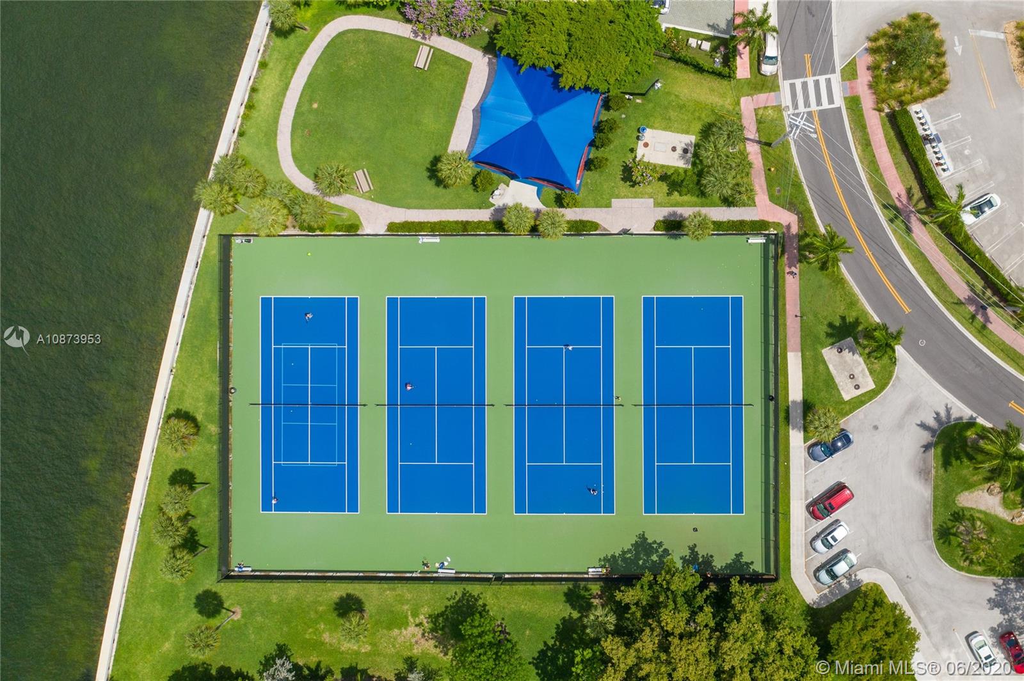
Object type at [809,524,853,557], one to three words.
car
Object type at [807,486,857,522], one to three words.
car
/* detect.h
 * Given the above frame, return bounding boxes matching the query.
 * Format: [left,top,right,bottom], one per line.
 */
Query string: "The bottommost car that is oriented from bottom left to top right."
[813,553,860,588]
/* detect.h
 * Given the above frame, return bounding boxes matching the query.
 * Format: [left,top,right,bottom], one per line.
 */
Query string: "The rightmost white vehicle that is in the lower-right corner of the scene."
[967,634,1000,680]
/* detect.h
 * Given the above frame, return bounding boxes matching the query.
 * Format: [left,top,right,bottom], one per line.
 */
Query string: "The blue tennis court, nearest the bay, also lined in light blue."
[260,297,359,514]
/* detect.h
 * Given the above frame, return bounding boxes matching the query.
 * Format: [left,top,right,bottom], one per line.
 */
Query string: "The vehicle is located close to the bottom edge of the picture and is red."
[997,633,1024,680]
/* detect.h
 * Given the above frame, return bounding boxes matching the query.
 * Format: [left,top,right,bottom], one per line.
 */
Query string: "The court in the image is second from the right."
[514,296,615,515]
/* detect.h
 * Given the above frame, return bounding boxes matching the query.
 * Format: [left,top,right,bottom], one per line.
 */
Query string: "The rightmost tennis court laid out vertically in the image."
[642,296,744,515]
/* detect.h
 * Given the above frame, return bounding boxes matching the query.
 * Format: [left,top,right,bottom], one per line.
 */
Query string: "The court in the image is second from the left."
[386,296,487,514]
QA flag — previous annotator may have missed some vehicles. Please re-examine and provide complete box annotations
[997,633,1024,680]
[807,486,857,522]
[809,524,853,557]
[962,191,1006,223]
[807,432,855,464]
[967,634,1000,680]
[813,553,860,588]
[758,27,781,77]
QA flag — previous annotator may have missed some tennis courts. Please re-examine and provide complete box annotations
[642,296,744,515]
[514,296,615,515]
[260,297,359,514]
[386,296,487,514]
